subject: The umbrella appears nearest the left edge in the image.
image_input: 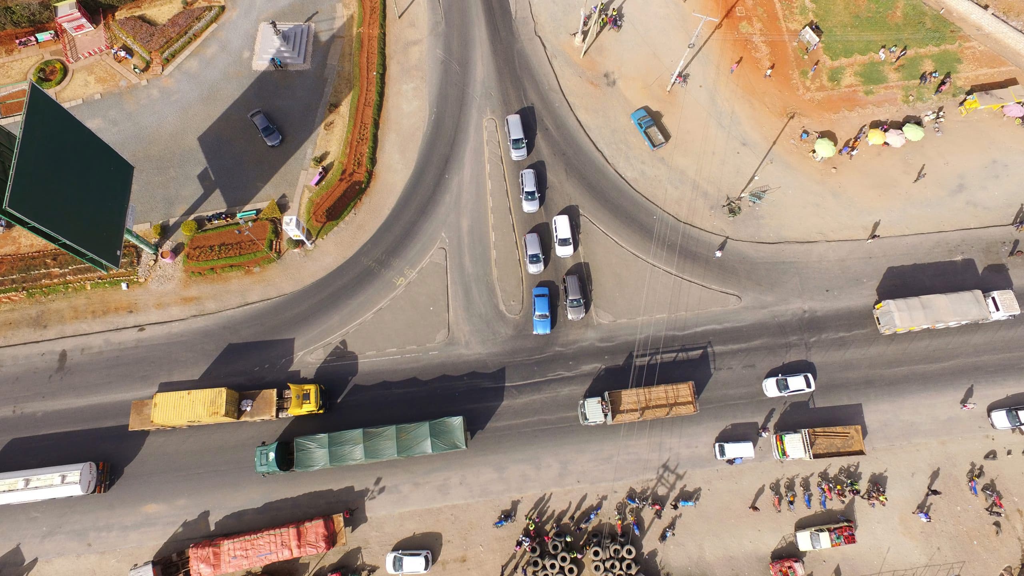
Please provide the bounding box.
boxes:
[813,139,832,159]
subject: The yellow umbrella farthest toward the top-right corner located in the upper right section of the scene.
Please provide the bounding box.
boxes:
[864,130,883,147]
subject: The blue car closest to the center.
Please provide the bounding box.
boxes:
[531,287,554,335]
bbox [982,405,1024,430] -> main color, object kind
white car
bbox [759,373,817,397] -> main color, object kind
white car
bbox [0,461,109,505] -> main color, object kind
white truck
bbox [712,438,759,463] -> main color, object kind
white vehicle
